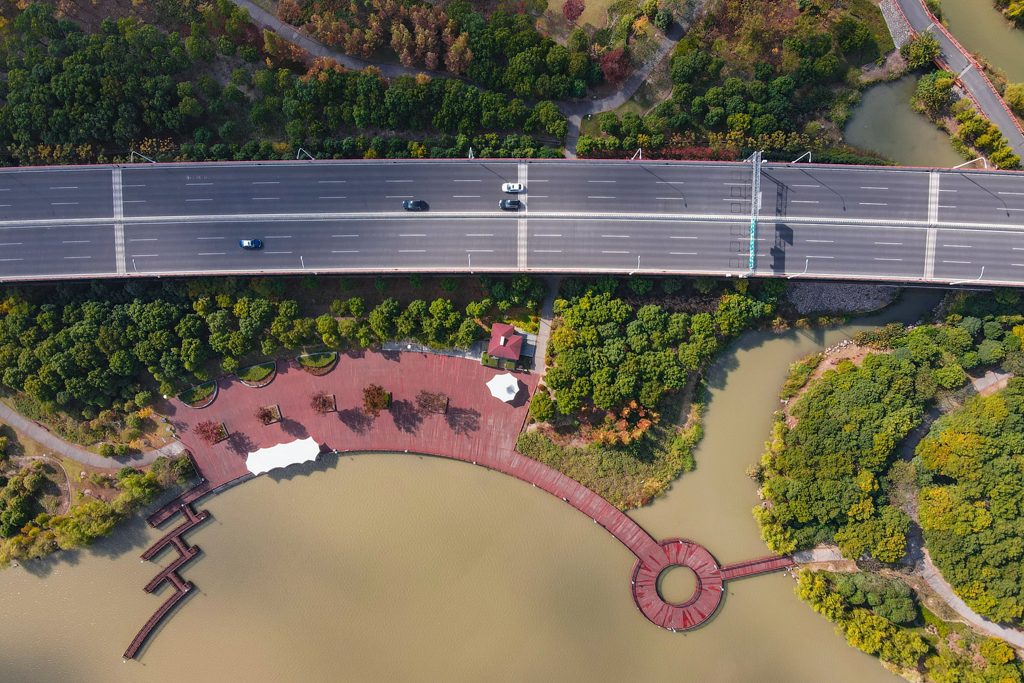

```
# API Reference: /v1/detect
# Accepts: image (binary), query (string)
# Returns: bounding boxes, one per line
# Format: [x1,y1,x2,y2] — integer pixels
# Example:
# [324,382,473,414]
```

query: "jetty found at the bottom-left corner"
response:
[122,482,214,660]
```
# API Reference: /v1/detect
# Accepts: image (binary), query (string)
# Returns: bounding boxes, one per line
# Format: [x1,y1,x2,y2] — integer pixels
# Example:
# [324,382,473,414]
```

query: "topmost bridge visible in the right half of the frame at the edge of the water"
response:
[918,19,989,91]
